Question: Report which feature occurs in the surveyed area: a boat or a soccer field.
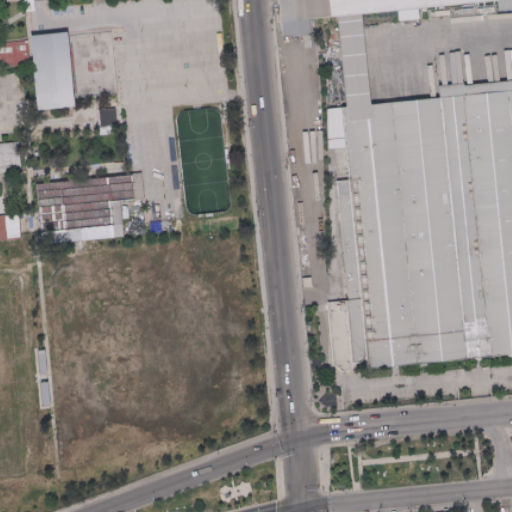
soccer field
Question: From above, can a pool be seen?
No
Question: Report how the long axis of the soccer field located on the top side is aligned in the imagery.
up and down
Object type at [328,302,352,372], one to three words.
building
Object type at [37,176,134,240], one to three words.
building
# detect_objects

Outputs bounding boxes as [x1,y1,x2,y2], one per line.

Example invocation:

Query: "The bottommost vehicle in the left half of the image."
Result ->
[192,464,214,476]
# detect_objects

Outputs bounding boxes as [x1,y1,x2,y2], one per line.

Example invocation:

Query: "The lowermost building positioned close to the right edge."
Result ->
[347,80,512,368]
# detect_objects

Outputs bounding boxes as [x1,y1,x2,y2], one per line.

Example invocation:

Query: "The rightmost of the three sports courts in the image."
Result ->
[70,30,116,98]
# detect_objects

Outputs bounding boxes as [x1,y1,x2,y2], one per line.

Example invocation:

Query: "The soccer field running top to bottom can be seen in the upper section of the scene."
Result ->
[176,104,230,216]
